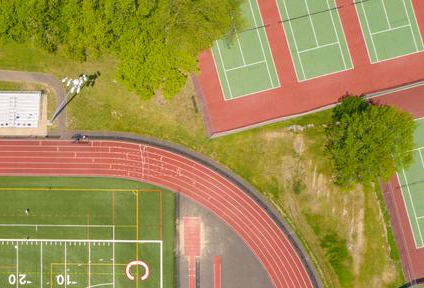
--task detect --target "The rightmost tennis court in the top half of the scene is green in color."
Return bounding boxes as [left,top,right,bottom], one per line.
[351,0,424,64]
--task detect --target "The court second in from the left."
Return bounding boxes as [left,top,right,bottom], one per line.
[277,0,355,82]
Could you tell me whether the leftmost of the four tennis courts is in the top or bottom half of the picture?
top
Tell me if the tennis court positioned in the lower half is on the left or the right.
right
